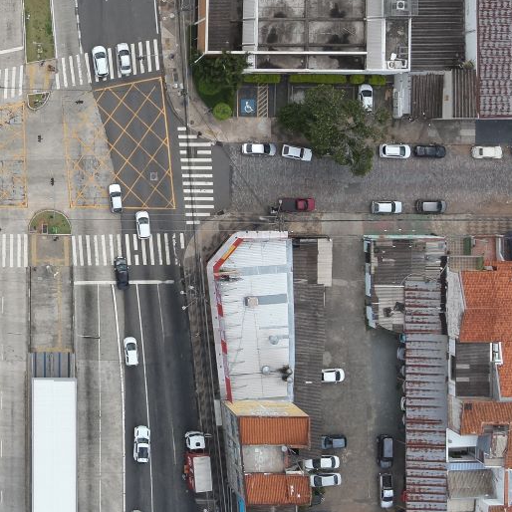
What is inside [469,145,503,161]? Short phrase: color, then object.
white car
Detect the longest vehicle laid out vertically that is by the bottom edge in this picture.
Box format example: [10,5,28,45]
[183,429,209,495]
